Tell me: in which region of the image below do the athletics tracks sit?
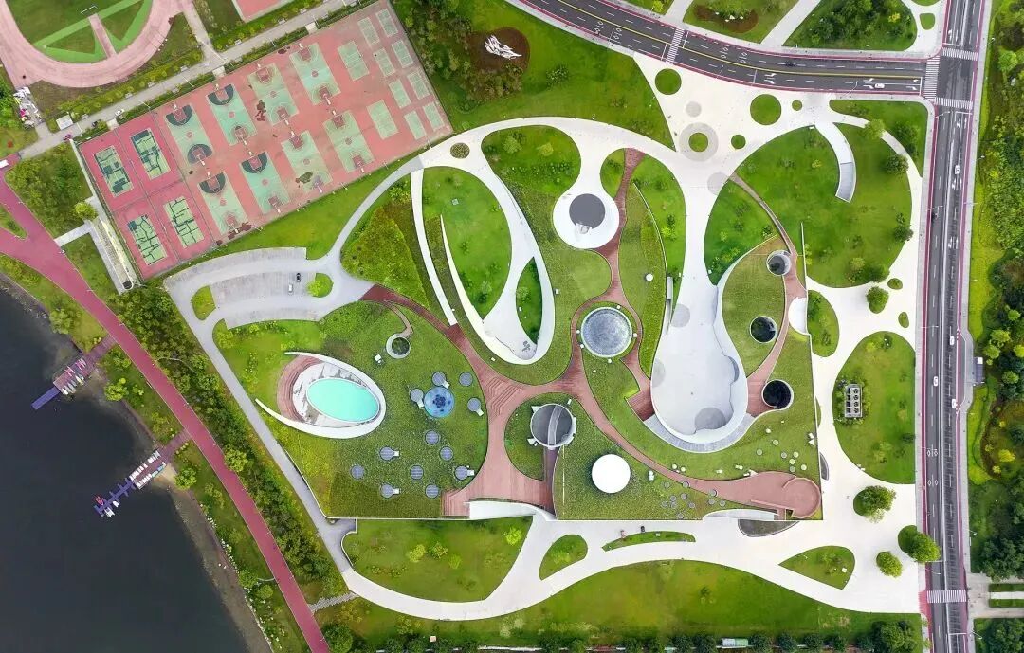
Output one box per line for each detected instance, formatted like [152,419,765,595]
[0,0,183,88]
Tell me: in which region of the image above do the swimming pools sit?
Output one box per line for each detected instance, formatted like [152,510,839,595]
[308,379,378,421]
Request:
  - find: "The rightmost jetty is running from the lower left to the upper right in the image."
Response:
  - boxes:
[94,431,189,516]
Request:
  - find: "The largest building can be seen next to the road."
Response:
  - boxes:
[213,125,822,520]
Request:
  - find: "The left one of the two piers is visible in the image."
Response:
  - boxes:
[32,335,116,409]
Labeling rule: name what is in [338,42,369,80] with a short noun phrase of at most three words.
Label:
sports court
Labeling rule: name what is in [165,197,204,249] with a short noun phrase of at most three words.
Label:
tennis court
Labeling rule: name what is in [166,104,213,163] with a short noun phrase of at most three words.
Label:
basketball court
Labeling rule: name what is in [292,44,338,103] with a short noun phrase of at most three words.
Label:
basketball court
